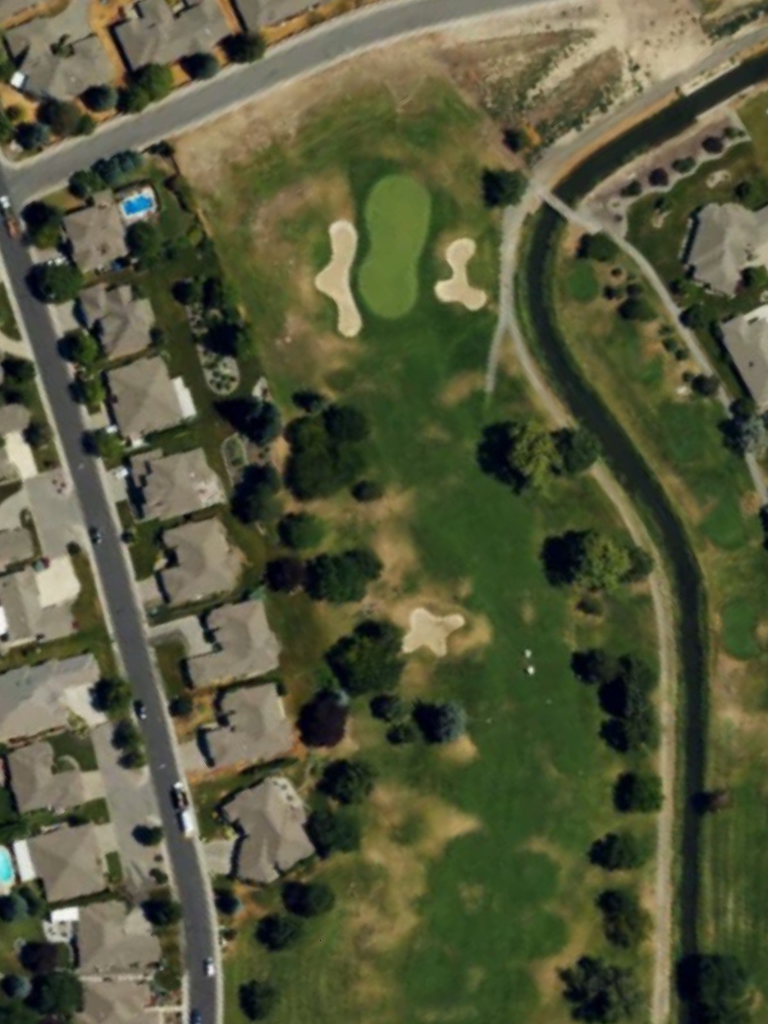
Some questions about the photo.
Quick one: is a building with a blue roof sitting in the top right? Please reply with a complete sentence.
No, the scene shows no building with a blue roof in the top right.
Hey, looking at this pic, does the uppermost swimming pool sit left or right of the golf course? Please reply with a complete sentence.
The golf course has the uppermost swimming pool on its left side.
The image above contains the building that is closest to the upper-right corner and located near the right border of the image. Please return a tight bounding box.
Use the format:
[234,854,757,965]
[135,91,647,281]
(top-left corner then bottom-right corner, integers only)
[685,200,768,300]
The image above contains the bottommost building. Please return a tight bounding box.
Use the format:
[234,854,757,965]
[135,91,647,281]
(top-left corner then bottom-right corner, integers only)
[78,979,152,1024]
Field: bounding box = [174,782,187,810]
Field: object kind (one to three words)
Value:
vehicle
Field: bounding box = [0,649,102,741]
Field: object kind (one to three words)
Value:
house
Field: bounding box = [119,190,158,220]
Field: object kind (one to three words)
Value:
swimming pool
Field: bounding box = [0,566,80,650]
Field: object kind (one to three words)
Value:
house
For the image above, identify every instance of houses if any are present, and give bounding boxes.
[50,902,162,976]
[199,684,292,767]
[0,494,36,565]
[0,26,119,101]
[78,278,157,361]
[221,781,316,885]
[64,185,128,273]
[156,518,244,602]
[685,200,768,300]
[1,743,86,815]
[78,979,152,1024]
[105,357,193,442]
[129,446,223,521]
[0,649,102,741]
[722,296,768,414]
[117,0,231,71]
[0,398,31,474]
[185,602,280,687]
[13,822,108,904]
[244,0,328,28]
[0,566,80,650]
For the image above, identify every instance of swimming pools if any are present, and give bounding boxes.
[0,840,18,893]
[119,190,158,220]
